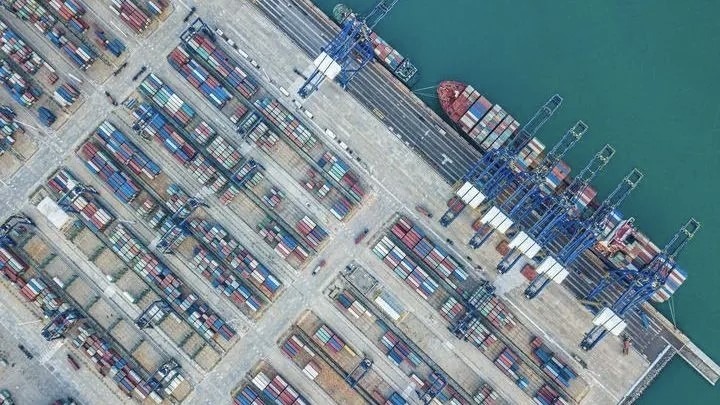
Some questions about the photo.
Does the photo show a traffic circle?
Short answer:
No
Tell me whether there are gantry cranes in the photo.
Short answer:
Yes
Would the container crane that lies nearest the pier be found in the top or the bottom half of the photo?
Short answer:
bottom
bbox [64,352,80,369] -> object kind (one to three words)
vehicle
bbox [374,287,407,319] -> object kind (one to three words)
shed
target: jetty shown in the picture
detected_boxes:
[656,326,720,385]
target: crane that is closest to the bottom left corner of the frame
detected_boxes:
[43,311,89,348]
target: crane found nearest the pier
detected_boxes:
[577,218,700,354]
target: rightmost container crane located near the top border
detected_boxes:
[297,0,398,98]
